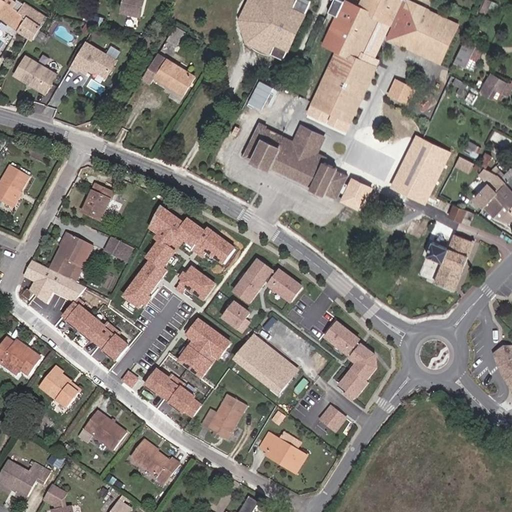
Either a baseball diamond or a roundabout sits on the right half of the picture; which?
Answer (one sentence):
The feature located on the right half of the picture is a roundabout.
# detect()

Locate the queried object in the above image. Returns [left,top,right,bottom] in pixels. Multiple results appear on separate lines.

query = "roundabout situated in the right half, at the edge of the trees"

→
[403,324,466,386]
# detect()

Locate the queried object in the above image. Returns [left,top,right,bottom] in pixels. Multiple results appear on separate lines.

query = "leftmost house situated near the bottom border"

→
[0,458,51,499]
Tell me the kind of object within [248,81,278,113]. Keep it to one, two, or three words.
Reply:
shed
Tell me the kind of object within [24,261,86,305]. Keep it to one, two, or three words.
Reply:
house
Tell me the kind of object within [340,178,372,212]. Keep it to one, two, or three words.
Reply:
building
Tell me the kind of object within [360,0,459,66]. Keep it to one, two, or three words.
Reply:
building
